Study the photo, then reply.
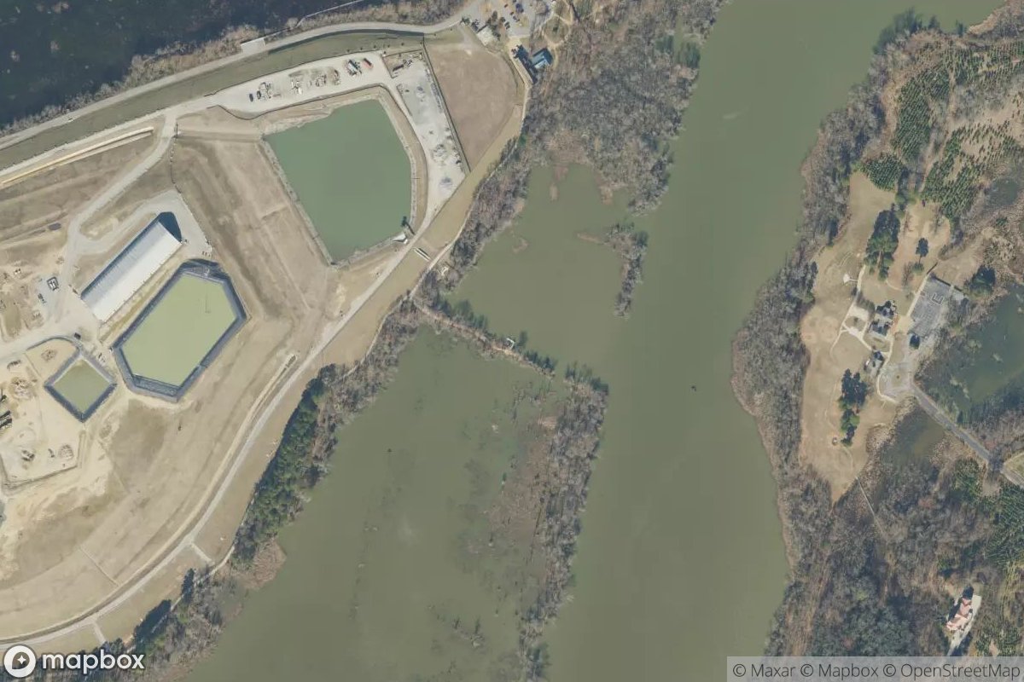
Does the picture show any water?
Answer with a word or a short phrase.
Yes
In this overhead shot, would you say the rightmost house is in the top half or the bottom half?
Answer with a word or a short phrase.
bottom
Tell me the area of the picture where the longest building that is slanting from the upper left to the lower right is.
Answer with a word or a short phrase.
top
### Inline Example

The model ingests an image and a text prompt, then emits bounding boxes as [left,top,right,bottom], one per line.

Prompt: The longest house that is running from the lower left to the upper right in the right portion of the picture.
[951,595,976,627]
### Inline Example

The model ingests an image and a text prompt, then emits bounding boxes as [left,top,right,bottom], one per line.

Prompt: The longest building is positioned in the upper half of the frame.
[80,221,181,321]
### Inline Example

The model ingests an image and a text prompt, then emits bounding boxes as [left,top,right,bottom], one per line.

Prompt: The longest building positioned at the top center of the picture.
[510,44,540,83]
